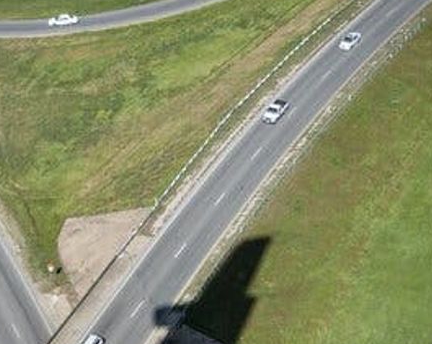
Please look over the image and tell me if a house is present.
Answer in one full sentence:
No, I can't see a single house in this photo.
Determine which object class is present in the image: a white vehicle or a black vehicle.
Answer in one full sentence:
It is a white vehicle that can be seen here.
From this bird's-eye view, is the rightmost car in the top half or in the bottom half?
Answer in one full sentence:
You can find the rightmost car in the top half.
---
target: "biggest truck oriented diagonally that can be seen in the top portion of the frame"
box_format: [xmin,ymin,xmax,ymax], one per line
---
[260,97,291,127]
